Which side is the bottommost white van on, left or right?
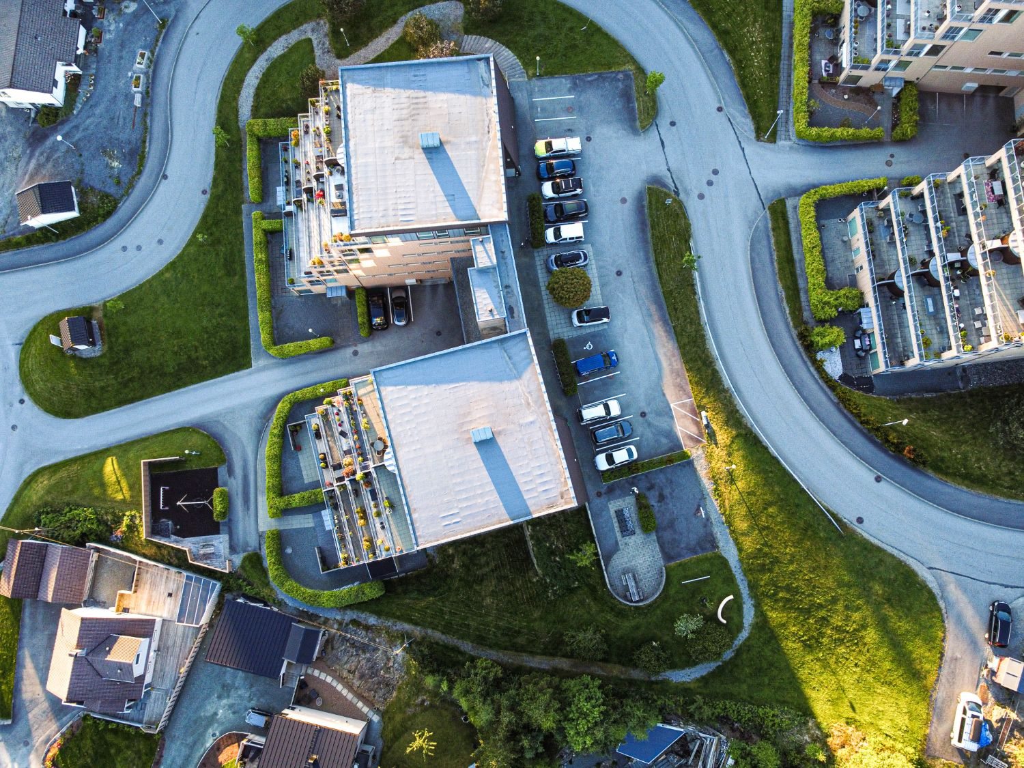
right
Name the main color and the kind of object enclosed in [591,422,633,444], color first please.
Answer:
blue car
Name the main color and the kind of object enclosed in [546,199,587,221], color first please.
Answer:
blue car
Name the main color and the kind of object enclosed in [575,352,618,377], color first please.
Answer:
blue vehicle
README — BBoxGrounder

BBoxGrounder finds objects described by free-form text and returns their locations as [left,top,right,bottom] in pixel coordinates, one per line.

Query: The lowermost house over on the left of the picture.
[233,702,381,768]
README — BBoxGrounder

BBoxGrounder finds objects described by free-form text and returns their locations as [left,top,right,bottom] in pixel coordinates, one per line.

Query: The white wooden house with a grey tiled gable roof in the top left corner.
[2,0,94,117]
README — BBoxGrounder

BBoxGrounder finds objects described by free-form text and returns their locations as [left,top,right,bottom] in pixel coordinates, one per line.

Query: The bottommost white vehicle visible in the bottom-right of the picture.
[951,691,985,751]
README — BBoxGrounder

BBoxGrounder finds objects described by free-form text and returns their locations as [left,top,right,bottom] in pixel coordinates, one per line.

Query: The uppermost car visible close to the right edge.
[987,599,1015,648]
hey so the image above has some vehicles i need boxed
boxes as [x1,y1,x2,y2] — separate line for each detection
[368,291,388,330]
[578,399,621,422]
[536,135,581,158]
[543,177,582,198]
[591,422,633,444]
[389,287,409,326]
[987,599,1015,648]
[595,446,638,469]
[548,250,588,270]
[951,691,985,751]
[538,158,575,178]
[575,352,618,377]
[546,199,587,221]
[546,222,584,243]
[573,306,610,325]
